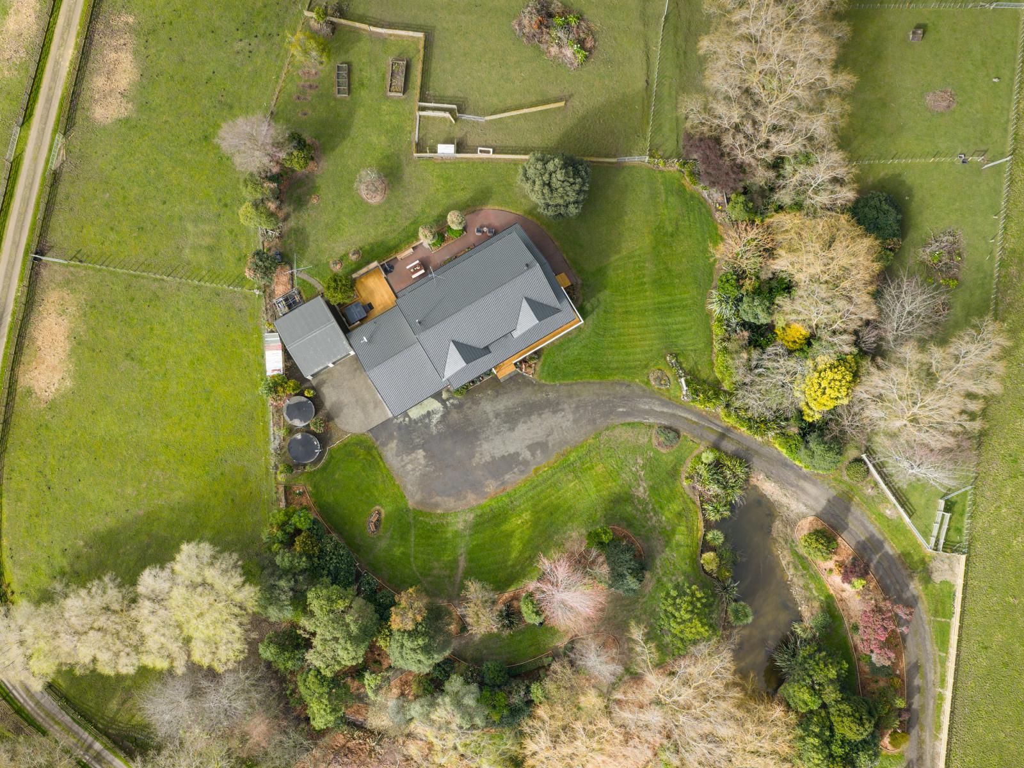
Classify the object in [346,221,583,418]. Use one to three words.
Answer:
house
